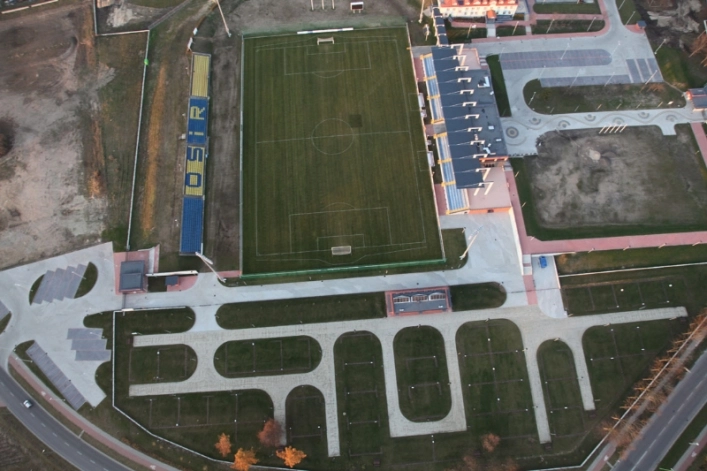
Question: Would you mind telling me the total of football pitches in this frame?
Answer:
1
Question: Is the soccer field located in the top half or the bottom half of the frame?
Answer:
top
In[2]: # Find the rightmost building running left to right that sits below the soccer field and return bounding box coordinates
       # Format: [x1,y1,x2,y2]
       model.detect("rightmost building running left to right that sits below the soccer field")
[389,287,452,317]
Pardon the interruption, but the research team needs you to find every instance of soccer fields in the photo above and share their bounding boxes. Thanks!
[240,25,445,275]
